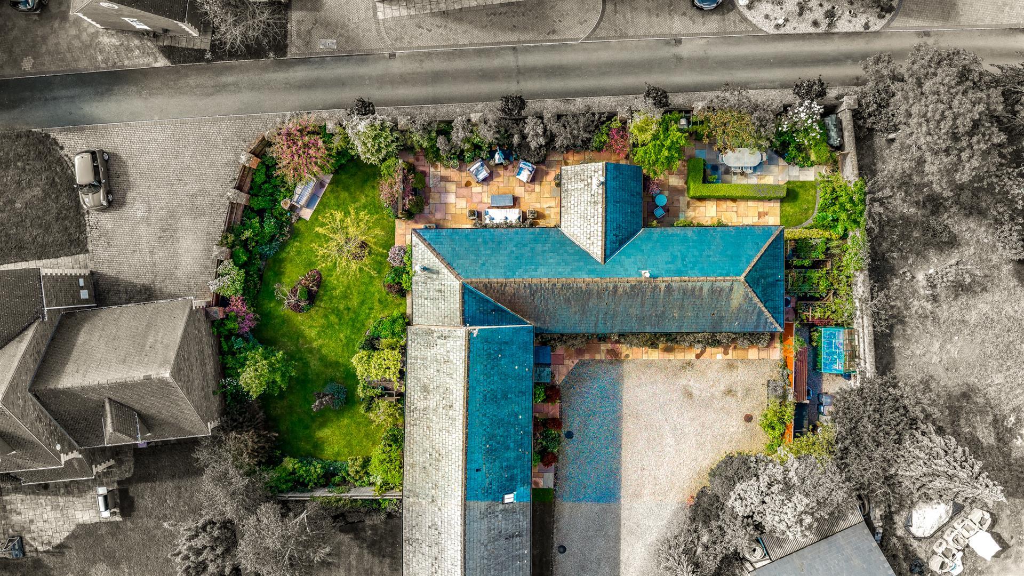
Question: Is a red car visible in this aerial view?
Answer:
No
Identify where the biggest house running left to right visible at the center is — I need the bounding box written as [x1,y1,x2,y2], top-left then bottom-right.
[411,161,786,334]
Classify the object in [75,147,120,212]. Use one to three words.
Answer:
car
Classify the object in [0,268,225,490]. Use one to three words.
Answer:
house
